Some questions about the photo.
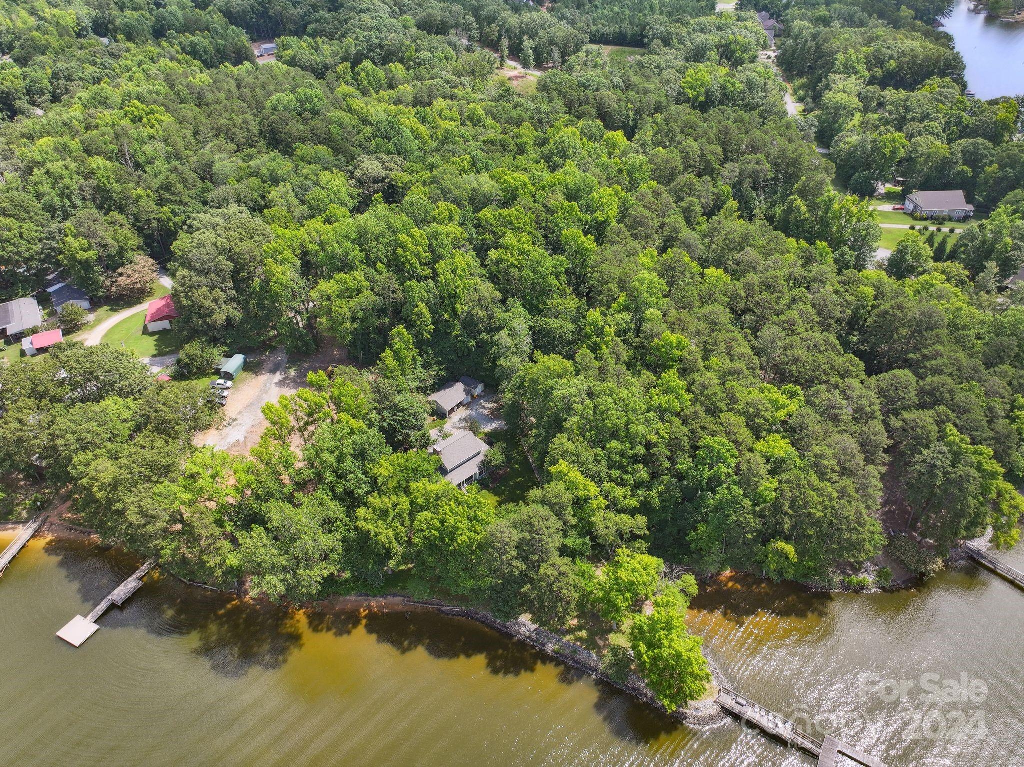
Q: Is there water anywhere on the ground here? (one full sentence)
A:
Yes, water can be seen from above here.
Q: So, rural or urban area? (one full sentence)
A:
The area is rural.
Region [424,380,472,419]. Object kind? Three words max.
building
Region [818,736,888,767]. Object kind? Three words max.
pier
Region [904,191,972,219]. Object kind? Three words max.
house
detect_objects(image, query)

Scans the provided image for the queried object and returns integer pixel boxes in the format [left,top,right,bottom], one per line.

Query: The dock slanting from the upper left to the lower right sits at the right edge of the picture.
[961,547,1024,588]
